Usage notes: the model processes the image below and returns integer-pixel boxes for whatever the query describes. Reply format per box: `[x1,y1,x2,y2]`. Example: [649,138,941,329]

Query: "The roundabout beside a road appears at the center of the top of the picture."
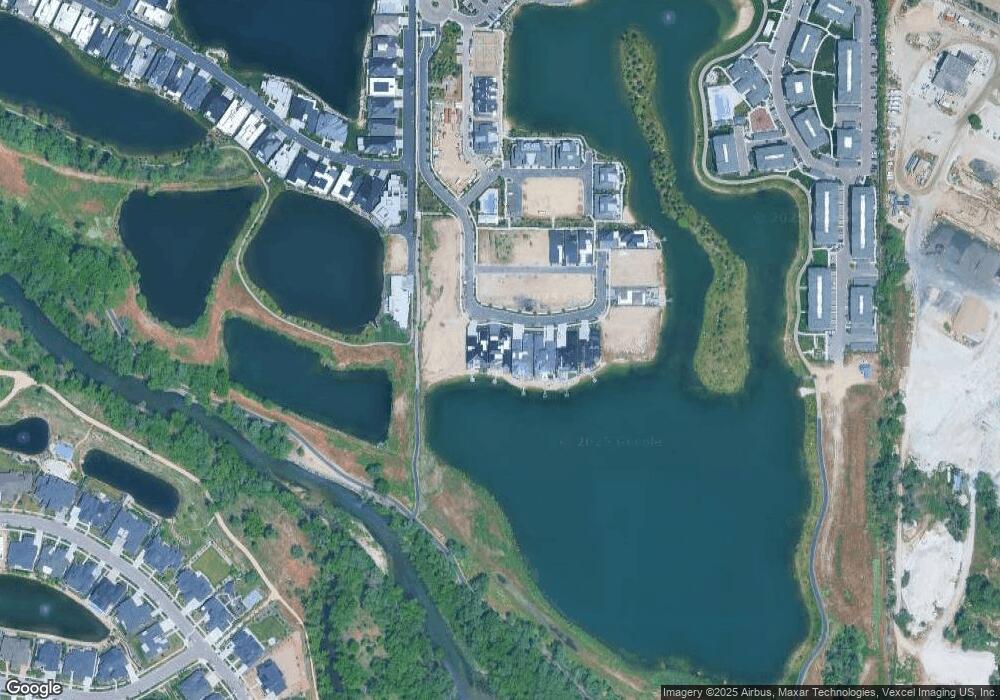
[417,0,454,23]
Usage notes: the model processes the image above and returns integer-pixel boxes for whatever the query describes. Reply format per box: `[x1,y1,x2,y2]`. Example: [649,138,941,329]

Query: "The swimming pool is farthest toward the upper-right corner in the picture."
[708,86,745,125]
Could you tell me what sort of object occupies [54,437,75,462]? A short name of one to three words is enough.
swimming pool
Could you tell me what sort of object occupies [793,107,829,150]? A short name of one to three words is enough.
building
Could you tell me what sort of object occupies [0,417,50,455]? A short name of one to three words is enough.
pond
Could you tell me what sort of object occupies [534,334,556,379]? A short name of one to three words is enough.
house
